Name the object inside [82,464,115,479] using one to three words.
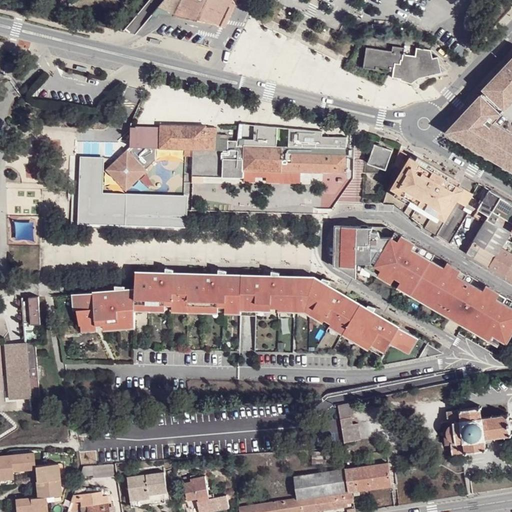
shed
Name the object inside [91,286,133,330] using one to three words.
building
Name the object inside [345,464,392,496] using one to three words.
house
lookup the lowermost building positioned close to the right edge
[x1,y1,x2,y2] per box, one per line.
[445,408,512,455]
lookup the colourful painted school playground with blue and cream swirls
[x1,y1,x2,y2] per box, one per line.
[104,149,184,193]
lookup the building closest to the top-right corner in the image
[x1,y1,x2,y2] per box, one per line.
[482,61,512,112]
